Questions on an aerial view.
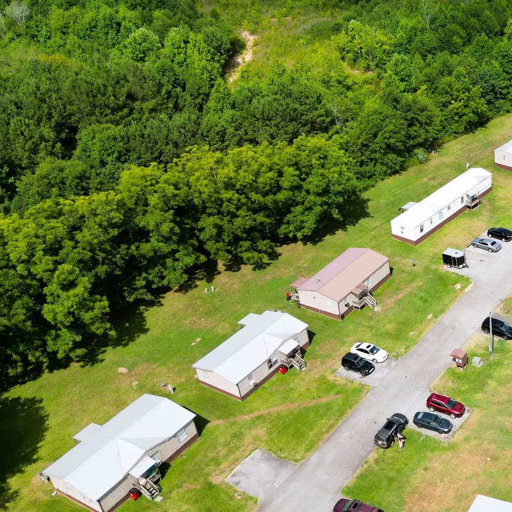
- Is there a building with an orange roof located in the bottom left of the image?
No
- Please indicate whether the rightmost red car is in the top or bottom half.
bottom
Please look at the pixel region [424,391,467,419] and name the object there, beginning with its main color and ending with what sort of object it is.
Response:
red car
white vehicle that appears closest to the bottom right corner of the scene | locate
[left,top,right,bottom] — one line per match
[349,340,388,362]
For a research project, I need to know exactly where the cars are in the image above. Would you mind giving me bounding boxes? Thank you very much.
[485,225,512,241]
[373,411,409,450]
[481,315,512,339]
[338,348,377,376]
[470,237,502,253]
[410,410,455,435]
[331,497,383,512]
[424,391,467,419]
[349,340,388,362]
